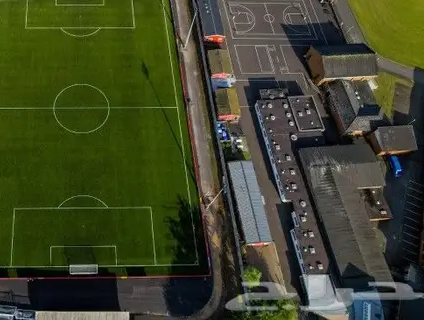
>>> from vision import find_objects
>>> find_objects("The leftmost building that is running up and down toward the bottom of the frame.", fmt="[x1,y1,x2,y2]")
[227,161,274,245]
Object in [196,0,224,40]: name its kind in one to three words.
building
